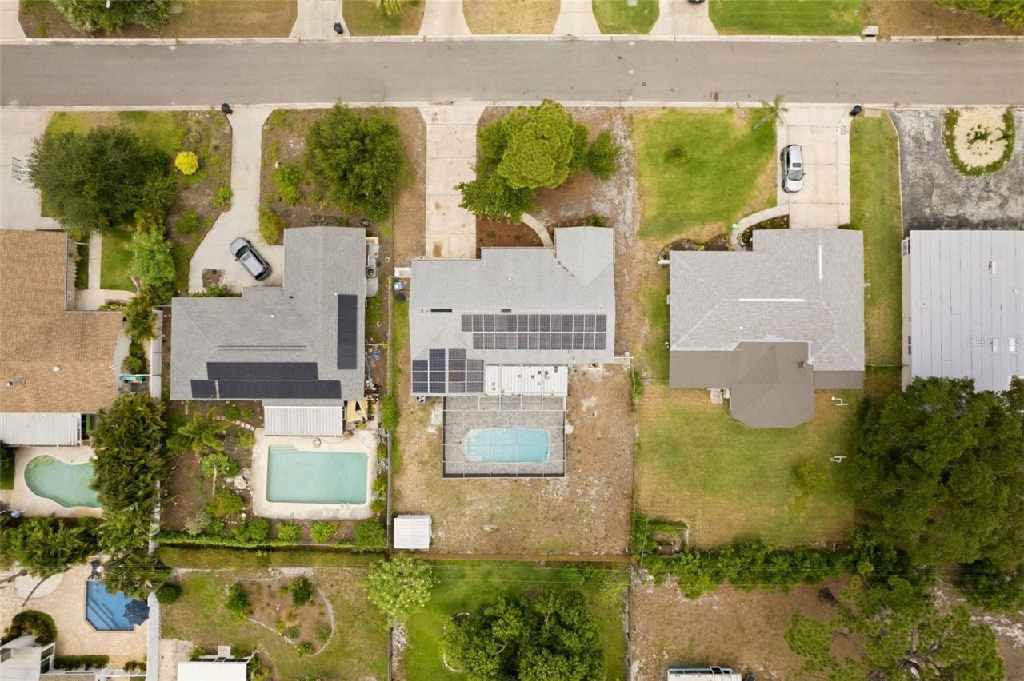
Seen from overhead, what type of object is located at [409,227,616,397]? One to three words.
house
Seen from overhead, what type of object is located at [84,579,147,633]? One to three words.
swimming pool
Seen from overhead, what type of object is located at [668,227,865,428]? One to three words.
house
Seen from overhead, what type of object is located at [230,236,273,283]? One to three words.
car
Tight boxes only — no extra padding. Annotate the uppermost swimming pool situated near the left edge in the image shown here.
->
[22,452,117,511]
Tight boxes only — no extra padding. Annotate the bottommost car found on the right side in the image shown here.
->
[780,143,806,194]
